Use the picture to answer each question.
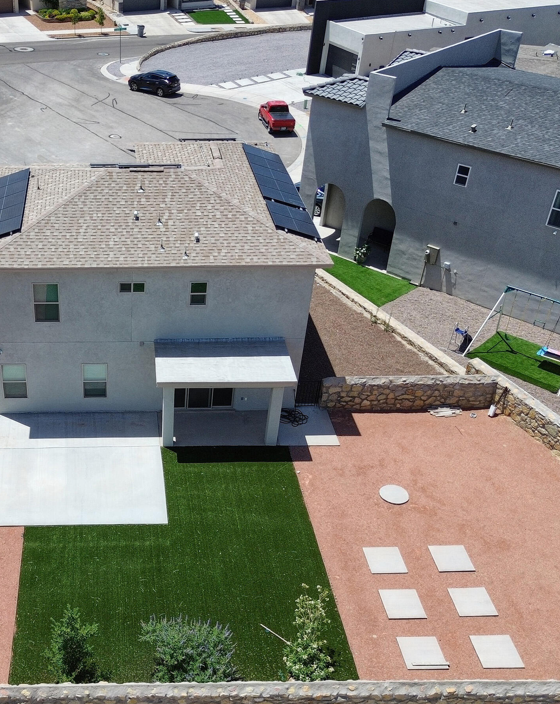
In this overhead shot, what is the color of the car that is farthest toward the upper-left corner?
black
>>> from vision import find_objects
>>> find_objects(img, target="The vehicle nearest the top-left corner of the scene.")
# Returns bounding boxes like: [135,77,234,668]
[129,68,183,96]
